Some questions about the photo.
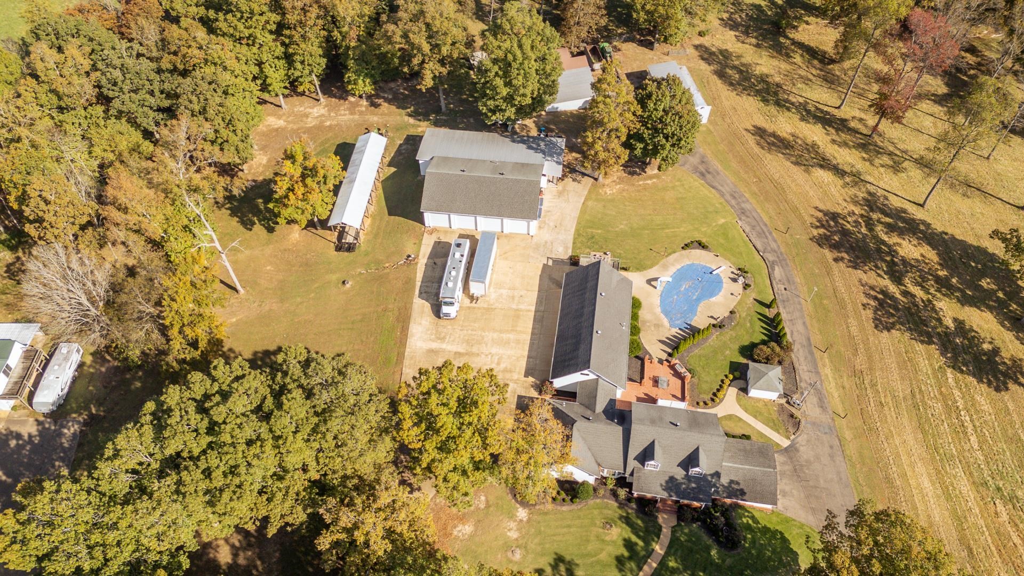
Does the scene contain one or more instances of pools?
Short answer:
Yes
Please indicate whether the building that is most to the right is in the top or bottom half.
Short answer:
bottom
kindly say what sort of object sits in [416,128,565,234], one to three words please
building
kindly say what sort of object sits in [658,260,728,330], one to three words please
swimming pool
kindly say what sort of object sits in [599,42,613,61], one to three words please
work vehicle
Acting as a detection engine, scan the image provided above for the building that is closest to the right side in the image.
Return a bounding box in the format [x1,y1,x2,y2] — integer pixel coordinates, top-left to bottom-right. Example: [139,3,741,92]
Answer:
[747,362,783,400]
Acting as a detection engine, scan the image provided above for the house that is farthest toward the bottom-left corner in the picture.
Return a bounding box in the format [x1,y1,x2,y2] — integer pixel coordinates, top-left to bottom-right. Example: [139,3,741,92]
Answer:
[0,325,51,404]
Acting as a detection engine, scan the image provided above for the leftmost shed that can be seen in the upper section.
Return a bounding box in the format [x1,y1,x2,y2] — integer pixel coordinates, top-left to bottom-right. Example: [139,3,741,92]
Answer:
[328,132,388,241]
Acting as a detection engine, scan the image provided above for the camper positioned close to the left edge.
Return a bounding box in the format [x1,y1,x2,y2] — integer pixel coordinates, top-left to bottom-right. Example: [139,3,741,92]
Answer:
[34,344,87,413]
